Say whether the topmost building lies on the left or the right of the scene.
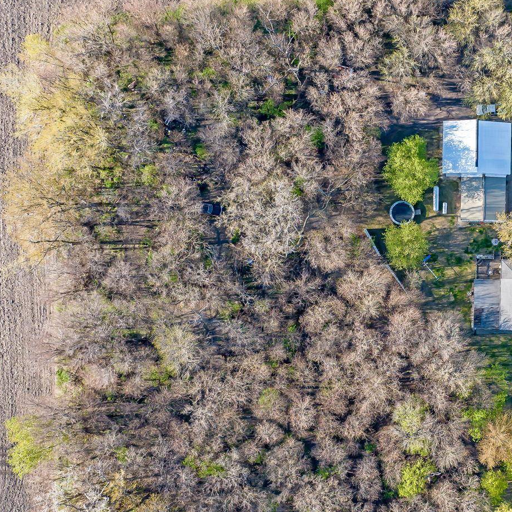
right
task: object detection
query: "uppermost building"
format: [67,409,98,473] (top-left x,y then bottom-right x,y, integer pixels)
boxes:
[442,117,512,221]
